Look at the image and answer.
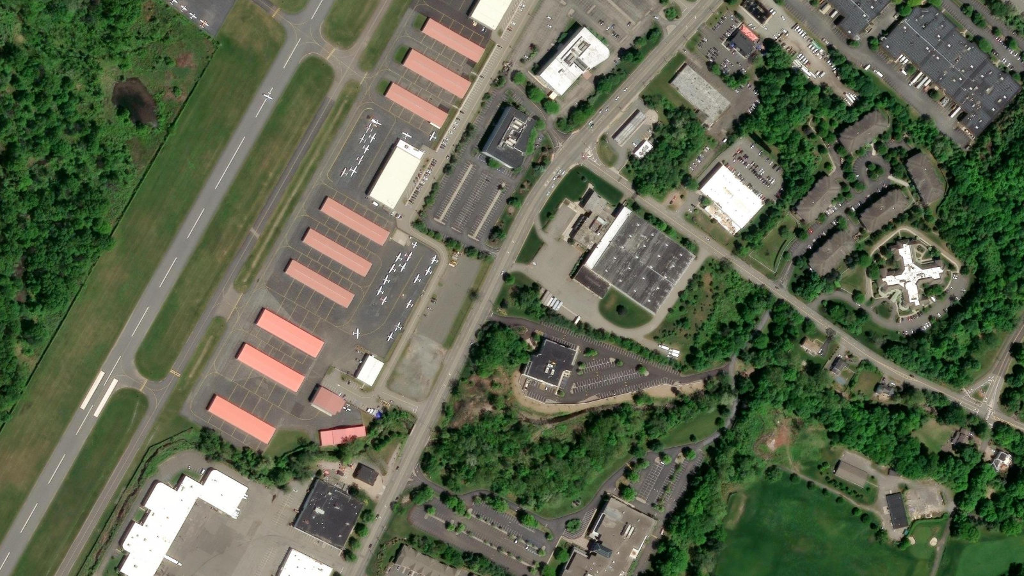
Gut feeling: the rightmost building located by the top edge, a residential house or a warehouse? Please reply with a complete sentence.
The rightmost building located by the top edge can be classified as a warehouse.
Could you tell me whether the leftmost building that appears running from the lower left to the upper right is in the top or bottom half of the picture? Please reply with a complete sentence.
You can find the leftmost building that appears running from the lower left to the upper right in the bottom half.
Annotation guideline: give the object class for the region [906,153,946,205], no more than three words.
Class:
house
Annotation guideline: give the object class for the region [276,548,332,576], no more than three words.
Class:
building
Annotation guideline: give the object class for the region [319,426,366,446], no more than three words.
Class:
shed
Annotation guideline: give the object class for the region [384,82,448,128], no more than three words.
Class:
hangar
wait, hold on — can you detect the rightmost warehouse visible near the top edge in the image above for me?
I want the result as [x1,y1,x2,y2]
[877,5,1022,138]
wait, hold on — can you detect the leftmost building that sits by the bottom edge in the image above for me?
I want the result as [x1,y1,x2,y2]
[116,469,248,576]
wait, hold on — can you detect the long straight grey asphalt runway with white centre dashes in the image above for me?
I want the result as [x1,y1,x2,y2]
[0,0,333,576]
